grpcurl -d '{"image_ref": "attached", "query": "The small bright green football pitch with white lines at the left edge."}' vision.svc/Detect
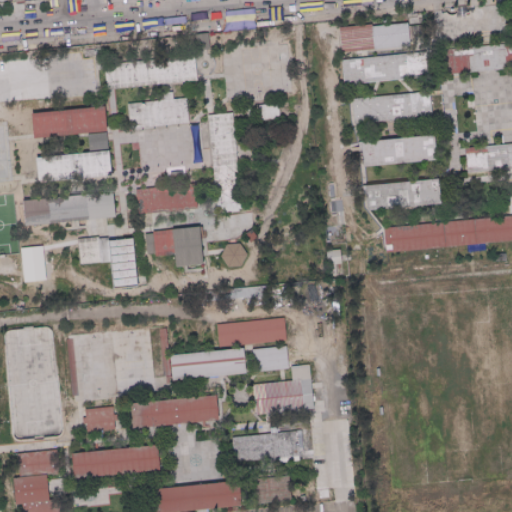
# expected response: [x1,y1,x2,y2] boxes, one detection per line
[0,194,22,253]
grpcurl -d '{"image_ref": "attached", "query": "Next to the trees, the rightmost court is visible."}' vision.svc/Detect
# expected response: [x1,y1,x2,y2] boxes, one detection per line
[224,44,297,102]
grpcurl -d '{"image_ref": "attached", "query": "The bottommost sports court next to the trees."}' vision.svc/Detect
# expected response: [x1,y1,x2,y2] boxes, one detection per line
[174,425,224,484]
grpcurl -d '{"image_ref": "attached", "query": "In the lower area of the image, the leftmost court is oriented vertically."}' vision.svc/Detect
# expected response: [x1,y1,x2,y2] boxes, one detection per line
[2,325,64,441]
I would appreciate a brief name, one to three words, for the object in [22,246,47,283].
shed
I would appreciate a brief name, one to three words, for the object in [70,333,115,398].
sports court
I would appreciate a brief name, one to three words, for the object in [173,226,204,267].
building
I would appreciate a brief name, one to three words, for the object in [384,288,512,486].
sports field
